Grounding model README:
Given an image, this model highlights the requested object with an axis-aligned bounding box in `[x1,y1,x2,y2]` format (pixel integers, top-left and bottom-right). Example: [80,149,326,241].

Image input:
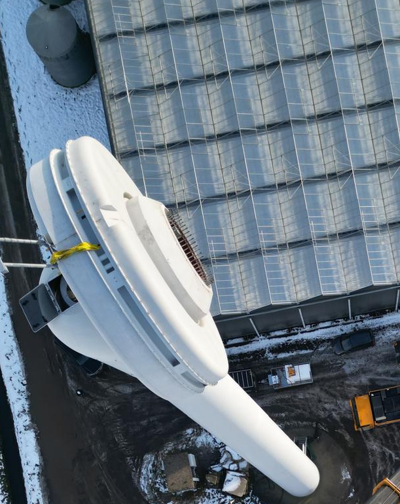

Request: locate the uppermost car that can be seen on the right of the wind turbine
[328,324,379,357]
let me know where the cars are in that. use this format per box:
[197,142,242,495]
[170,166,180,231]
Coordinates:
[49,337,101,379]
[328,324,379,357]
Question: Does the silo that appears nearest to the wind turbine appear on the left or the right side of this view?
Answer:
left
